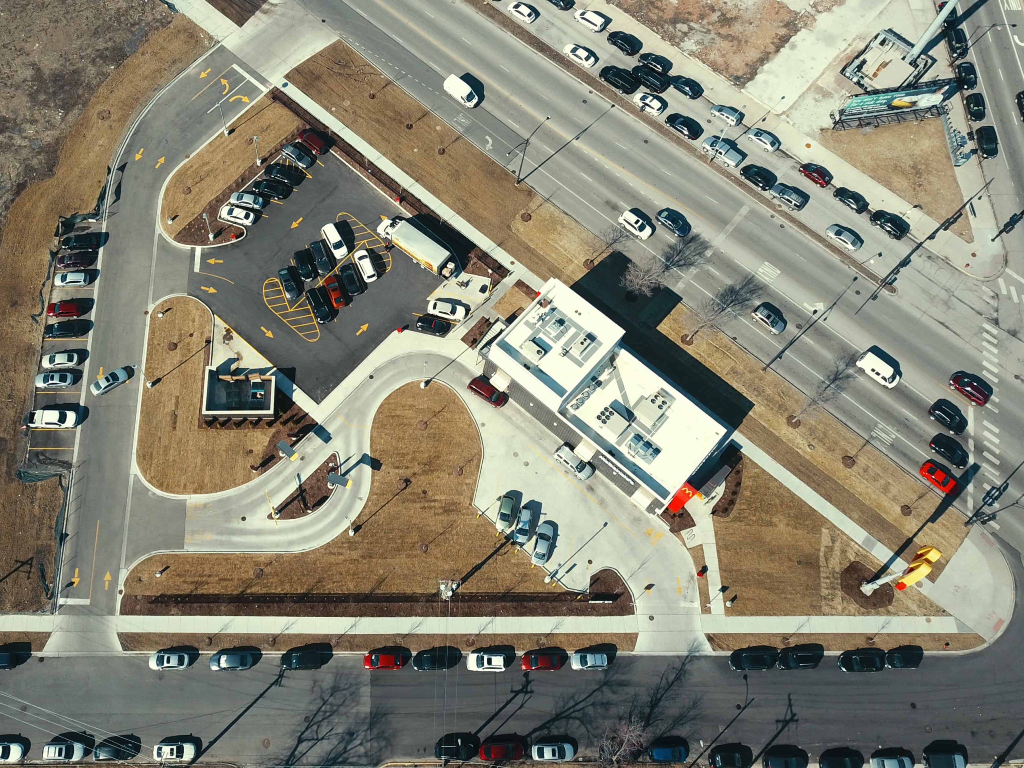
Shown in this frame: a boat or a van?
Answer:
van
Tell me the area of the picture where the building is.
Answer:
center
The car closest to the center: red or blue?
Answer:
red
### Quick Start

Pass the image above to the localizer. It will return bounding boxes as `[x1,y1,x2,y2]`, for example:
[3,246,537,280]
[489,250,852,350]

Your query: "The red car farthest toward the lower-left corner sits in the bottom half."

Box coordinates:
[364,652,401,671]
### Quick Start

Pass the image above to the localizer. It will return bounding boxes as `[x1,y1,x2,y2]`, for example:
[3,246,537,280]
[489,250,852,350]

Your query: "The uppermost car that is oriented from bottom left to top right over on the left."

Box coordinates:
[90,367,128,398]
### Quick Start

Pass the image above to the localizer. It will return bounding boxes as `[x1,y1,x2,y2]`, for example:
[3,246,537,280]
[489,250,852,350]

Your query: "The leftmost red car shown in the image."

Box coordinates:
[47,302,81,319]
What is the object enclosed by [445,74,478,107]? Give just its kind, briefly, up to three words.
van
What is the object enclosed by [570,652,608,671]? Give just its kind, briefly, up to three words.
car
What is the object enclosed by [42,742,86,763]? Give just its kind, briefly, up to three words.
car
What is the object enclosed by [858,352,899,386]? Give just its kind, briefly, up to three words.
van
